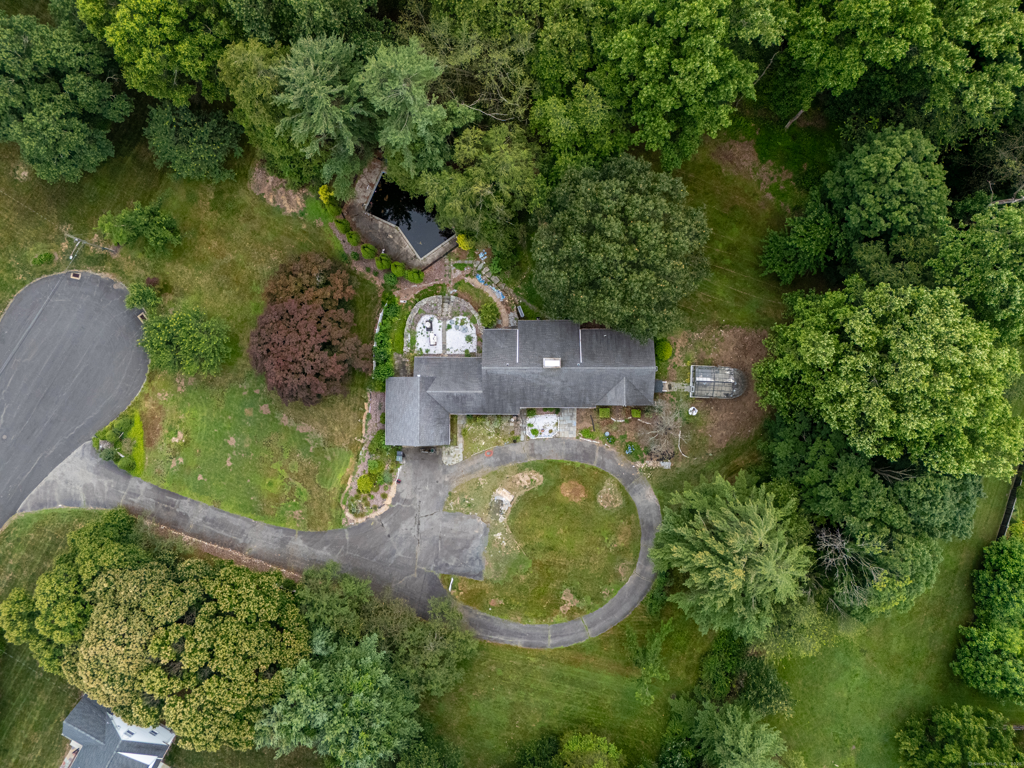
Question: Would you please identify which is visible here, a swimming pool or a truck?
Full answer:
This aerial view contains a swimming pool.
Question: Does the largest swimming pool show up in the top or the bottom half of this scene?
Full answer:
The top half of the photo is where the largest swimming pool is.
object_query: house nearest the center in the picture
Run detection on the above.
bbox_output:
[385,319,663,447]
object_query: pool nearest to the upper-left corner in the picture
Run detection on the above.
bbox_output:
[362,168,459,262]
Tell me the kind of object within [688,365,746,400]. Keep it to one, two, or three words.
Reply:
greenhouse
